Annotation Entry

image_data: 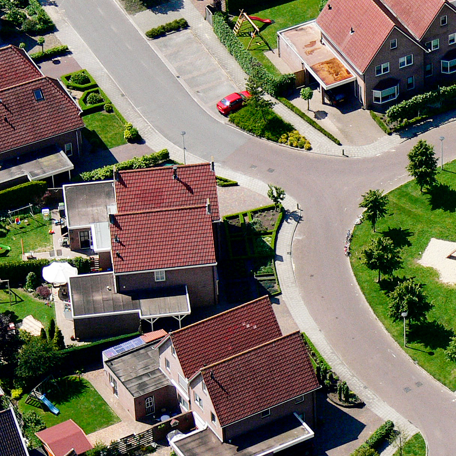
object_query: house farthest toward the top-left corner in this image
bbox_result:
[0,30,83,187]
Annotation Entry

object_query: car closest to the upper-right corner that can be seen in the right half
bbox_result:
[323,86,350,105]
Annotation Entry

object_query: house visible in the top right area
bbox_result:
[277,0,456,111]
